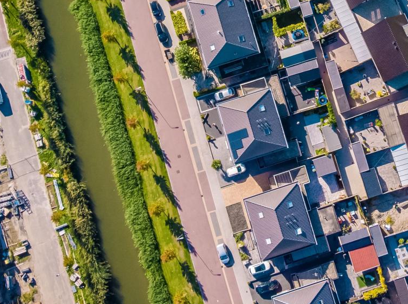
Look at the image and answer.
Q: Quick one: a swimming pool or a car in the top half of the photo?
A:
car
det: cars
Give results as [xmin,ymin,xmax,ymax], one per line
[247,260,272,276]
[225,163,247,177]
[255,279,280,295]
[148,0,164,20]
[214,88,236,101]
[215,241,232,266]
[153,20,169,44]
